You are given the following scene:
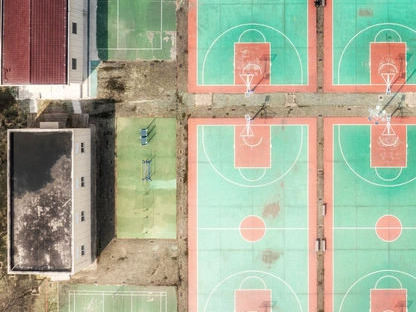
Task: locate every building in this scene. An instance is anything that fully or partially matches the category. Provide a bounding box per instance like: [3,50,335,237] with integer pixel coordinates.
[8,119,92,273]
[1,0,86,85]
